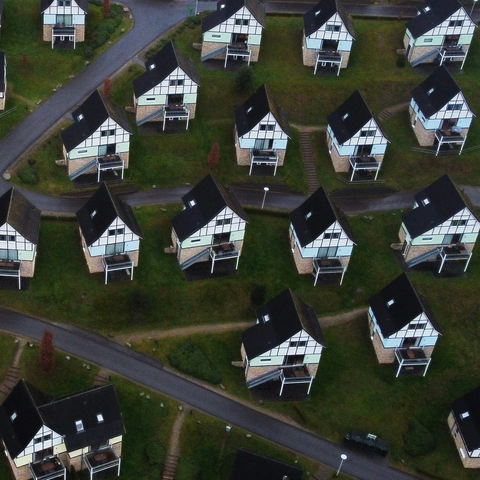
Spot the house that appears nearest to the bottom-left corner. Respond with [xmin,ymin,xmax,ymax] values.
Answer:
[0,378,126,480]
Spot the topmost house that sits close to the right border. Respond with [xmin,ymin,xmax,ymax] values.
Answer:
[396,0,478,69]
